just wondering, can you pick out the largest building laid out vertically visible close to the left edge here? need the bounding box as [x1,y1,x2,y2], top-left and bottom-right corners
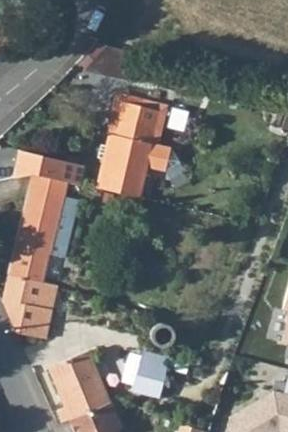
[0,150,83,340]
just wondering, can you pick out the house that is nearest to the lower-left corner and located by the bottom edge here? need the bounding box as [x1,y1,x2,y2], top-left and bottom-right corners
[46,354,122,432]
